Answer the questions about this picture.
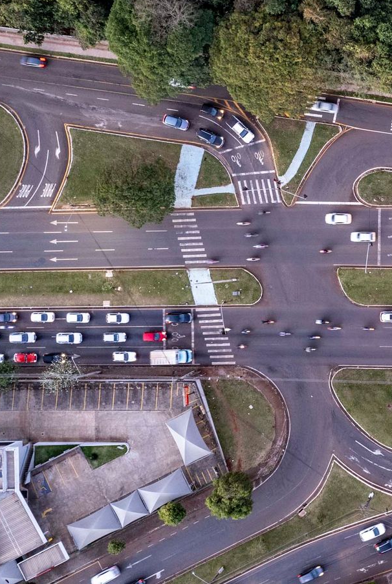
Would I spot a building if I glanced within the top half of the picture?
No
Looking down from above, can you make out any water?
No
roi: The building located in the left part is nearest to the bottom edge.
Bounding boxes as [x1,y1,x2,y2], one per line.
[17,536,76,582]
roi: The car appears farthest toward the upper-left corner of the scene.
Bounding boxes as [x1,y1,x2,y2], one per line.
[21,54,49,69]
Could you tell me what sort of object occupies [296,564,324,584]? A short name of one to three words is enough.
car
